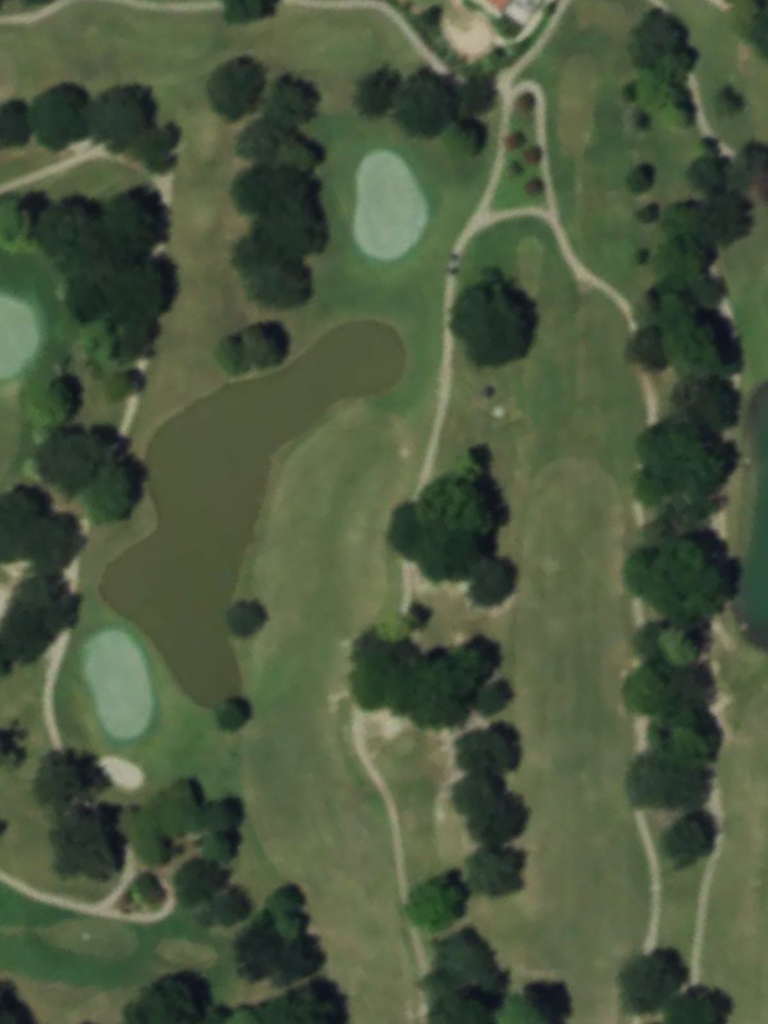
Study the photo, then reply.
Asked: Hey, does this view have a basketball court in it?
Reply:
No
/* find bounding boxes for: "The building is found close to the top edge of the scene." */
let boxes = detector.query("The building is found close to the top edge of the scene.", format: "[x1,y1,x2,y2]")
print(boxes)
[489,0,547,32]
